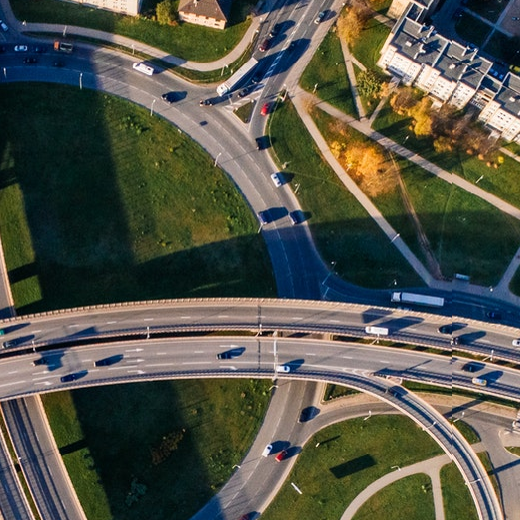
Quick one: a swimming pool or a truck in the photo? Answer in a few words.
truck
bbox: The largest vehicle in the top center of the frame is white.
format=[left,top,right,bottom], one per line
[218,54,260,96]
